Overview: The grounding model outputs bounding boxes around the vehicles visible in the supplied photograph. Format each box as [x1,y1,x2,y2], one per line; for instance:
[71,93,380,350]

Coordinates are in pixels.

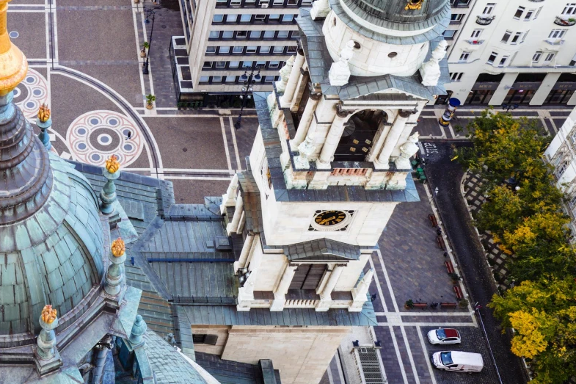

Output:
[427,324,467,345]
[433,346,489,373]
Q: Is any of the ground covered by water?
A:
No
